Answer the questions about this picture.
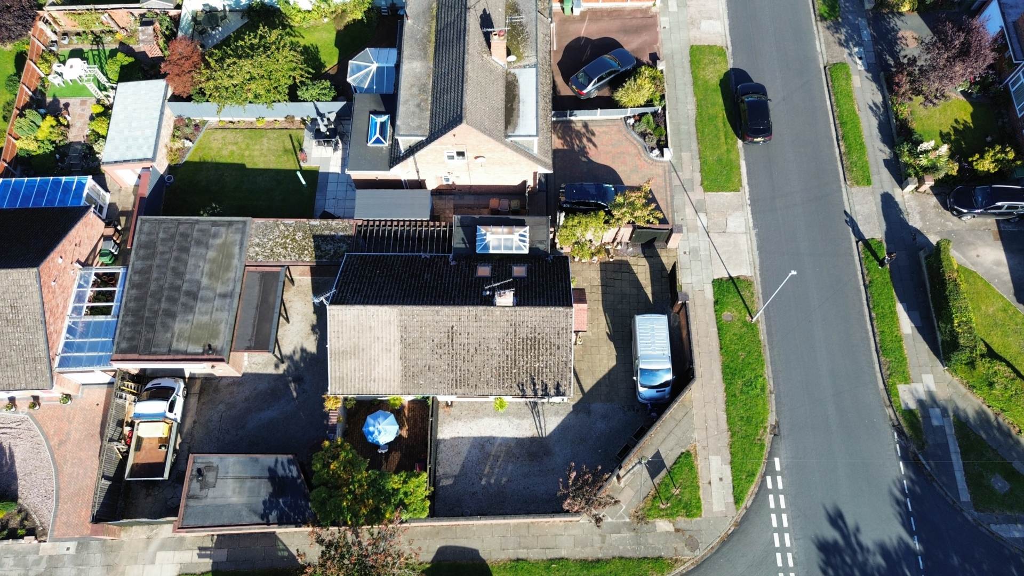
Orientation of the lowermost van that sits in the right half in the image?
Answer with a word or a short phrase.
from top to bottom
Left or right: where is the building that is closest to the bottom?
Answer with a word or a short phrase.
left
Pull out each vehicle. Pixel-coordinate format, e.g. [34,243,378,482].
[565,47,643,102]
[732,84,774,147]
[628,311,680,409]
[125,376,193,479]
[556,178,638,219]
[939,185,1024,226]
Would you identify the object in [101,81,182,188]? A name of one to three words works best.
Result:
building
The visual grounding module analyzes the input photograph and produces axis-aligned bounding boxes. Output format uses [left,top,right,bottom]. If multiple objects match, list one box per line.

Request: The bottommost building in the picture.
[176,454,314,532]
